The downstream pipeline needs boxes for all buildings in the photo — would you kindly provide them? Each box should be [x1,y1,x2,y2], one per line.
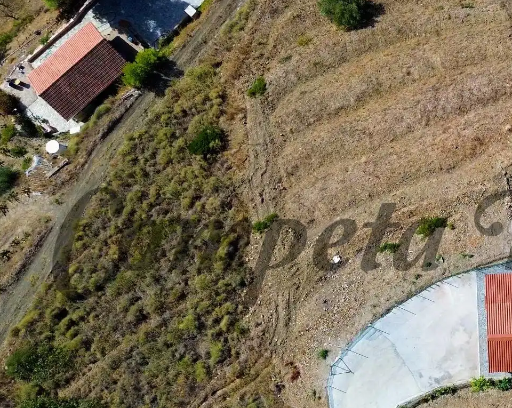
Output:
[27,21,129,121]
[485,273,512,373]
